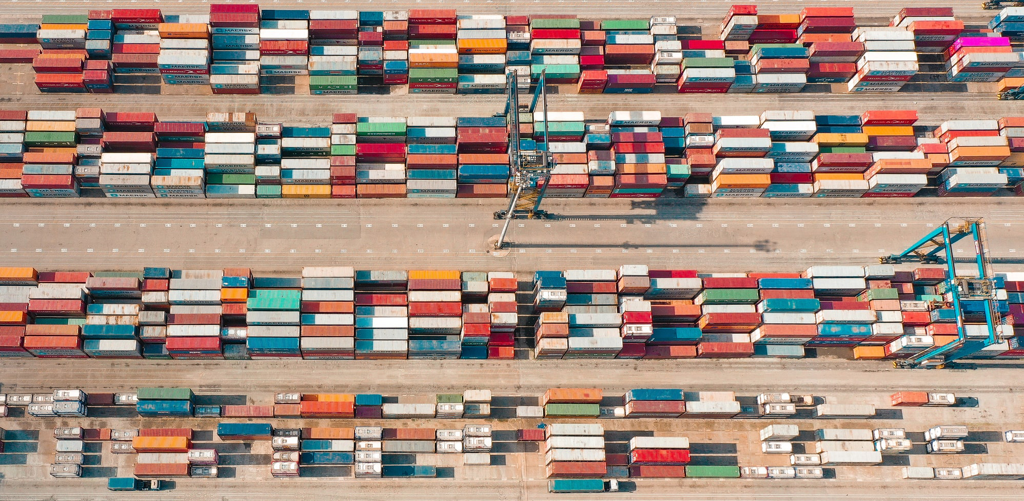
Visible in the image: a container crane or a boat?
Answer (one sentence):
Looking from above, you can make out a container crane.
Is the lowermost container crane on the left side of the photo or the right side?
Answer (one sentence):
The lowermost container crane is on the right side of the image.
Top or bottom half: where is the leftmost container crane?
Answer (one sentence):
The leftmost container crane sits in the top half of the picture.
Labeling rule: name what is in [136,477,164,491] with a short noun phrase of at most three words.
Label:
vehicle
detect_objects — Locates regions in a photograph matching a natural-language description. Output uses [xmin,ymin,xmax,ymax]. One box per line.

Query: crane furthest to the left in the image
[486,66,570,220]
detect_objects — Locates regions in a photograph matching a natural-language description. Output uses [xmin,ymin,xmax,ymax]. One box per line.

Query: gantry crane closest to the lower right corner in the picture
[881,212,1009,371]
